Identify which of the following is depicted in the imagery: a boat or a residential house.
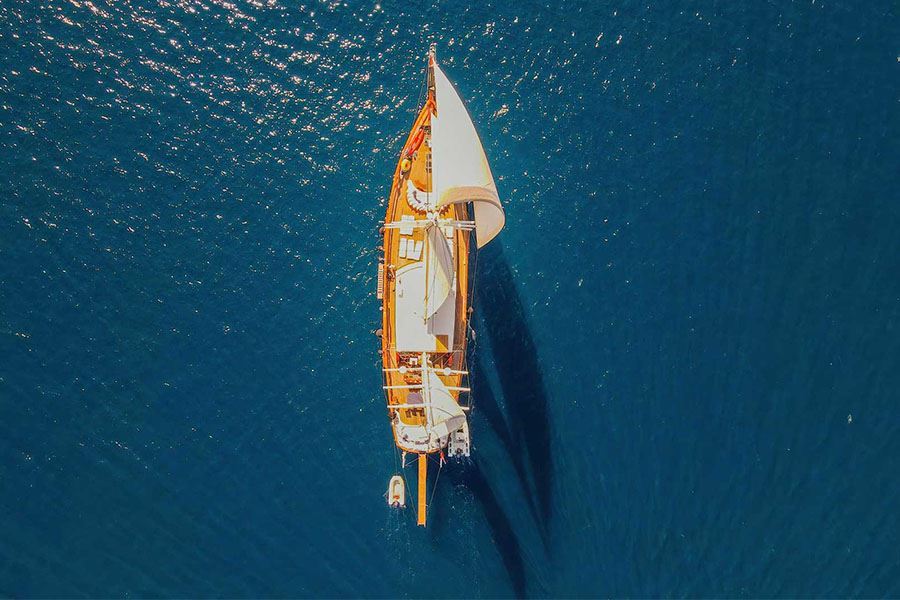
boat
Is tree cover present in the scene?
No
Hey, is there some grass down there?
No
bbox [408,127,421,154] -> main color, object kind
red boat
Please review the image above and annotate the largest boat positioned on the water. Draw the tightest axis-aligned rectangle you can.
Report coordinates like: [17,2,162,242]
[378,40,504,528]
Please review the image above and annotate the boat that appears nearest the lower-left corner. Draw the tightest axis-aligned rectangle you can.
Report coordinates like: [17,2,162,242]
[386,475,405,510]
